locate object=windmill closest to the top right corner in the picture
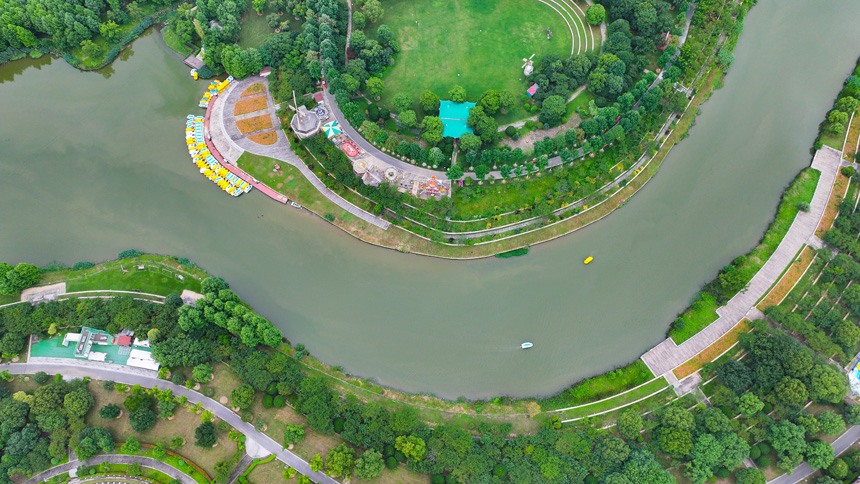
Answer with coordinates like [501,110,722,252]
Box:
[522,52,536,79]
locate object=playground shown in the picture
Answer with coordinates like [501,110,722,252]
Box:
[412,173,452,198]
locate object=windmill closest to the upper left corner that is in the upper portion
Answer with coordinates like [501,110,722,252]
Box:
[285,89,321,139]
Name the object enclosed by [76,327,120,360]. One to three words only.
building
